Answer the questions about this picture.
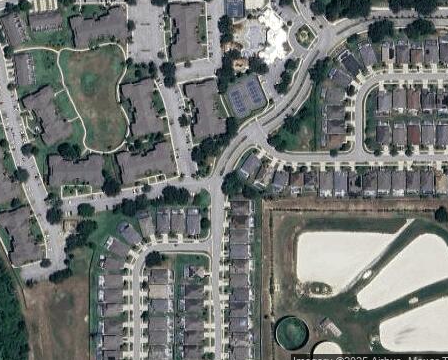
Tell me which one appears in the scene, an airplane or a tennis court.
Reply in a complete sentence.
This aerial view contains a tennis court.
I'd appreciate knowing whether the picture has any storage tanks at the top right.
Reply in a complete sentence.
No, I see no storage tank at the top right.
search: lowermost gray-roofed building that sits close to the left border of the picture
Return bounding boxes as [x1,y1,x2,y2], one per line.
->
[0,204,44,269]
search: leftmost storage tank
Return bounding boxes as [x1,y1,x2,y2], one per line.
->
[276,317,308,348]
